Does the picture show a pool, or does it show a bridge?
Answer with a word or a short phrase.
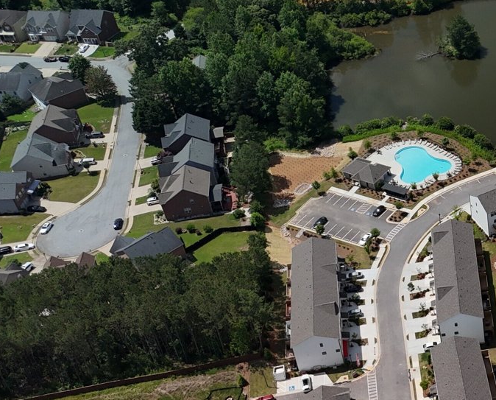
pool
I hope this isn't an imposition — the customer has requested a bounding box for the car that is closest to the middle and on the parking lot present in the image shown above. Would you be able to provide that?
[312,216,327,228]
